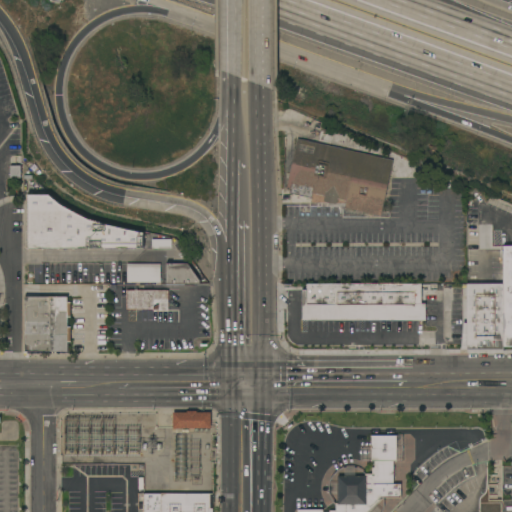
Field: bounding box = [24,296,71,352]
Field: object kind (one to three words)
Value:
building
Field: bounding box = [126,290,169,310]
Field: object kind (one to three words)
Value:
building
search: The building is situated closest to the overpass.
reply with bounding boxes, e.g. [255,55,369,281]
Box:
[288,138,392,217]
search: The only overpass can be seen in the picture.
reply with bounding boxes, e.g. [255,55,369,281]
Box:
[216,0,278,92]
